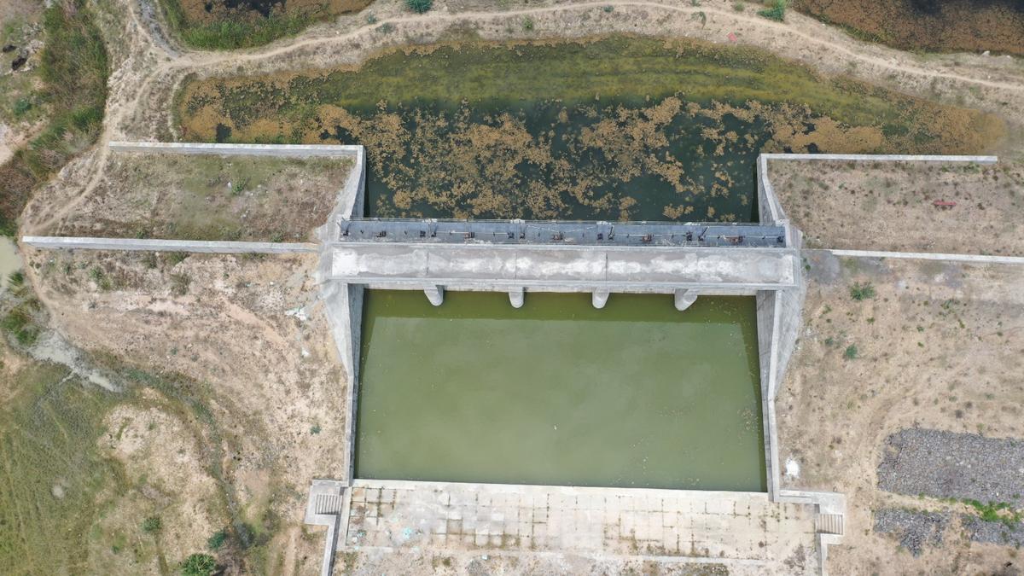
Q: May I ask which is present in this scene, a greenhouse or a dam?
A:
dam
